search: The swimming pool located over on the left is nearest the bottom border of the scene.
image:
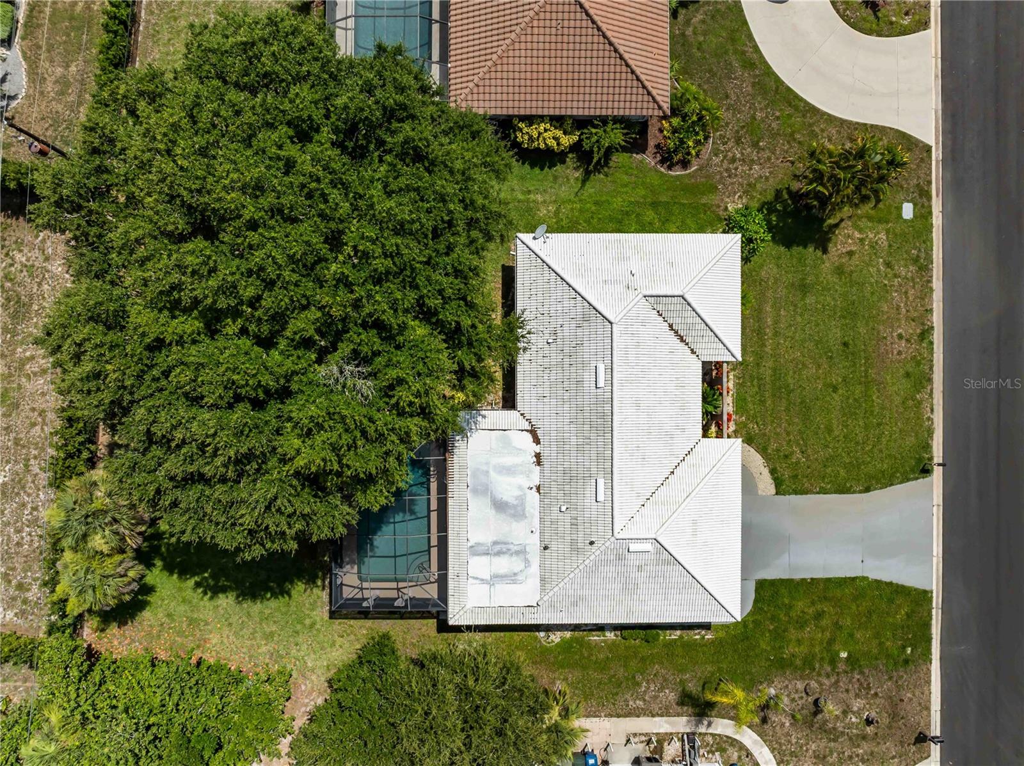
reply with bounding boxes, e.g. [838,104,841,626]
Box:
[354,420,434,586]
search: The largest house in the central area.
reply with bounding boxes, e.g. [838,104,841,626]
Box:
[447,232,743,625]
